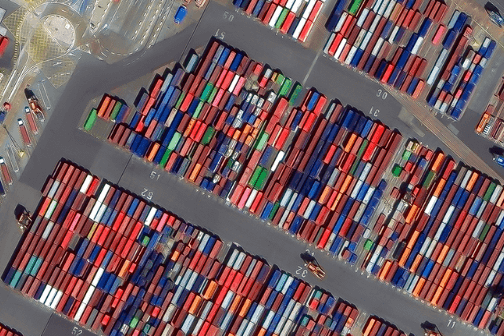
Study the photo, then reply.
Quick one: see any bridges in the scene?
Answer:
No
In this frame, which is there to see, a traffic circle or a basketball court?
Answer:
traffic circle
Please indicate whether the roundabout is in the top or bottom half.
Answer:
top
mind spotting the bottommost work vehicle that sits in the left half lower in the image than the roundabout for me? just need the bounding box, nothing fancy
[19,210,36,230]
